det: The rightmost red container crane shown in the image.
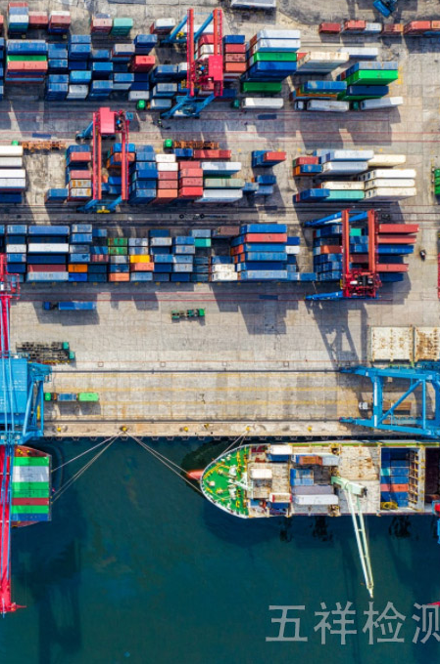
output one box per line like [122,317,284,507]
[304,209,379,299]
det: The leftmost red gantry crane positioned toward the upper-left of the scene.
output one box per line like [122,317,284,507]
[78,103,132,208]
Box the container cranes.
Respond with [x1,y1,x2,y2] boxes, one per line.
[0,254,48,622]
[163,7,227,115]
[304,209,379,299]
[78,103,132,208]
[332,350,440,447]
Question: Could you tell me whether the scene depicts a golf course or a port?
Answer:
port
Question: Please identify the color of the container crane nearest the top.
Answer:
red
